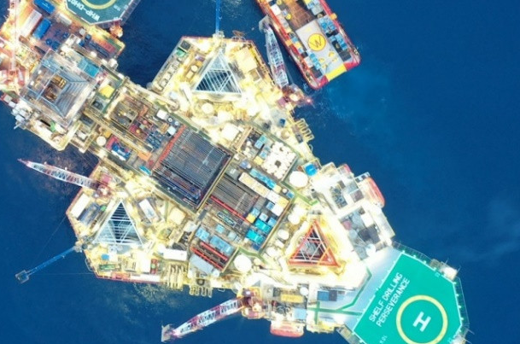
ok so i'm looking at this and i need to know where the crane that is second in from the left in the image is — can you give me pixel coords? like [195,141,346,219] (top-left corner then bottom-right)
[21,156,118,200]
